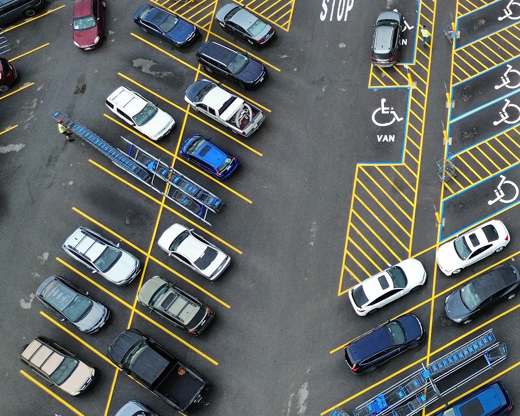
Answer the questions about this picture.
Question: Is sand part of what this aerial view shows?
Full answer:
No, there is no sand in the image.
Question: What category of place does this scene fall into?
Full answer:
The picture captures a parking lot.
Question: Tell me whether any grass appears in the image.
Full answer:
No, grass can't be seen anywhere here.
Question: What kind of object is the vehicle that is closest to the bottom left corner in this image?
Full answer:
Specifically, the vehicle that is closest to the bottom left corner is a car.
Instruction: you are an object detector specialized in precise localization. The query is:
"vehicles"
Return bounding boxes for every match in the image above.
[342,312,431,378]
[434,218,512,278]
[0,0,41,27]
[342,259,429,321]
[212,3,279,48]
[182,77,268,141]
[112,397,162,416]
[179,133,242,182]
[157,223,233,283]
[194,39,269,92]
[130,3,199,49]
[443,262,520,327]
[109,329,213,416]
[138,276,219,340]
[371,10,406,70]
[31,271,113,335]
[18,333,104,400]
[105,86,178,141]
[429,379,514,416]
[67,0,108,53]
[62,225,143,288]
